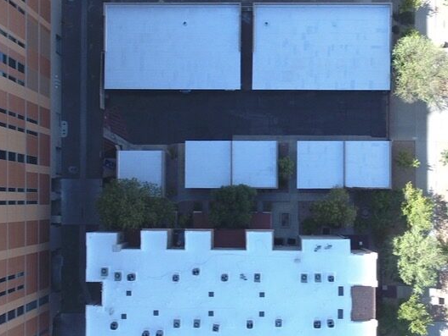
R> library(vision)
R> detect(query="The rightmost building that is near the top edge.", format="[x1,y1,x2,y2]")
[253,2,391,94]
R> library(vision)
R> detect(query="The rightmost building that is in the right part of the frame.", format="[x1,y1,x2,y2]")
[343,140,391,189]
